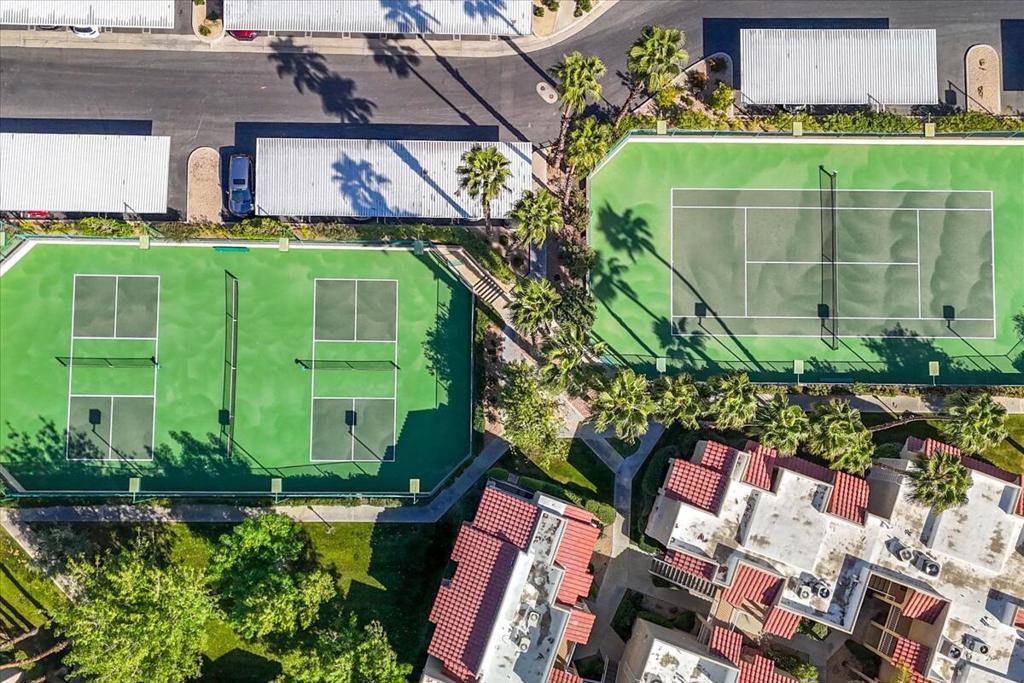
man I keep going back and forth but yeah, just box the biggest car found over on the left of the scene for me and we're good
[224,151,256,219]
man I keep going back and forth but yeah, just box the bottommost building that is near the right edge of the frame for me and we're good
[647,435,1024,683]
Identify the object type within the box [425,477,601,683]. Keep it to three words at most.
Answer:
building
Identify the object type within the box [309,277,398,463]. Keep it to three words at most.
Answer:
sports court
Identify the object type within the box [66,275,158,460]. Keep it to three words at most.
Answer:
sports court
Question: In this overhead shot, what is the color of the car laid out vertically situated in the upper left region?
blue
